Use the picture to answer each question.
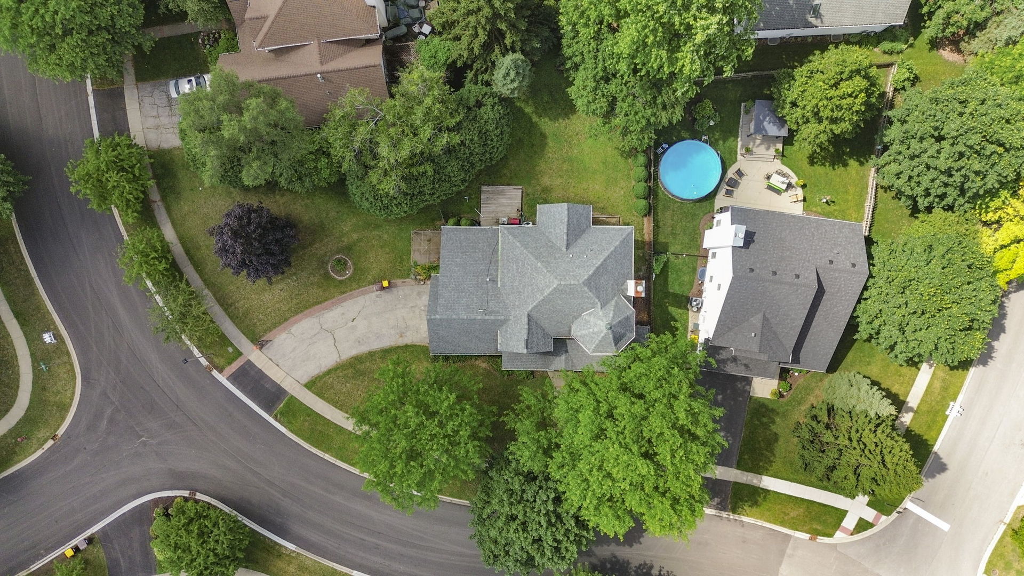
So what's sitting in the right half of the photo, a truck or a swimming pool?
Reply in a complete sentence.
The one visible in the right half of the photo is a swimming pool.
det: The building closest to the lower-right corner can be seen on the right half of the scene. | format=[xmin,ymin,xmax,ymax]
[699,204,870,381]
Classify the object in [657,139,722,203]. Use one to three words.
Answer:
swimming pool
